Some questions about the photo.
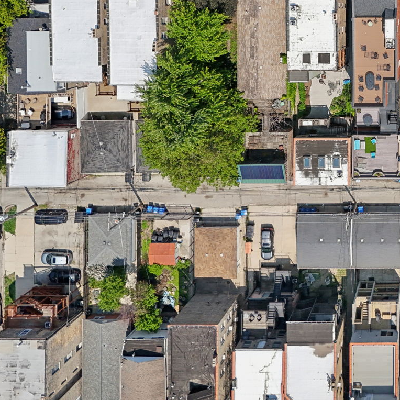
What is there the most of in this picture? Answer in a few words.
buildings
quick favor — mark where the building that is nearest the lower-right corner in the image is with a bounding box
[350,316,400,400]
